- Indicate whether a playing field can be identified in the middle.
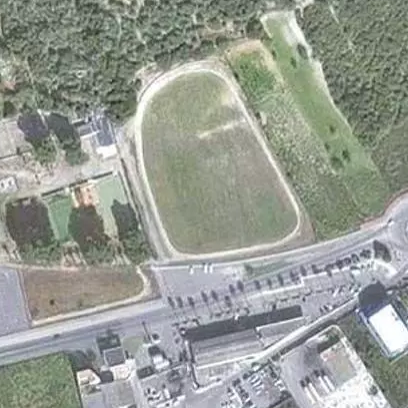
Yes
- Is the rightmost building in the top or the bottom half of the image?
bottom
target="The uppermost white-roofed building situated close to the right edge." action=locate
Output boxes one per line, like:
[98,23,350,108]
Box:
[368,304,408,356]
